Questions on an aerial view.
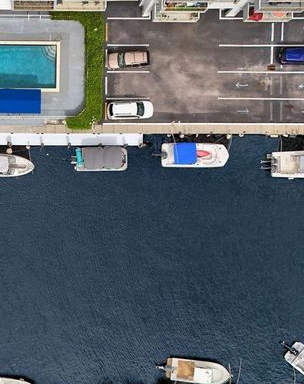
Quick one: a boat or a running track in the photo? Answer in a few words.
boat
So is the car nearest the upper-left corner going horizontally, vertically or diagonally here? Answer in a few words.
horizontally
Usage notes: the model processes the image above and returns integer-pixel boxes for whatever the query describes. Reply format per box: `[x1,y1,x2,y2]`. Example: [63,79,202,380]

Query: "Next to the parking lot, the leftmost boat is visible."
[67,147,126,172]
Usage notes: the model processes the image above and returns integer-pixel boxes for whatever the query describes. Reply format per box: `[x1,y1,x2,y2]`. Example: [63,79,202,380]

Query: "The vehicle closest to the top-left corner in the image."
[107,49,148,70]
